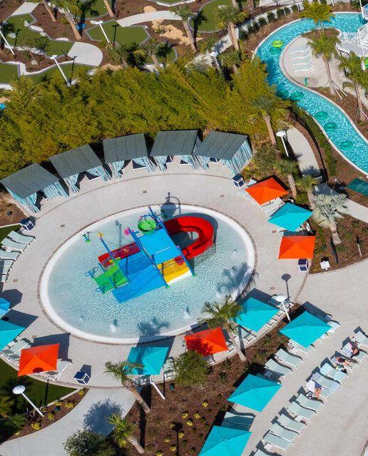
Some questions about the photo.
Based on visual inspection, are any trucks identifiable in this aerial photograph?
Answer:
No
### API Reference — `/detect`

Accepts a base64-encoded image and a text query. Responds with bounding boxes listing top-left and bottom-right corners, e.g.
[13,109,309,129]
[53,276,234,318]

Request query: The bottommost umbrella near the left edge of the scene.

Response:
[16,342,60,379]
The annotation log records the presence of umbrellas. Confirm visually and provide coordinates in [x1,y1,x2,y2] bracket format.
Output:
[281,311,332,350]
[227,373,282,414]
[0,318,28,355]
[200,425,252,456]
[16,342,60,379]
[230,297,278,333]
[280,236,317,260]
[245,177,288,211]
[268,203,312,233]
[184,326,227,362]
[123,347,170,380]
